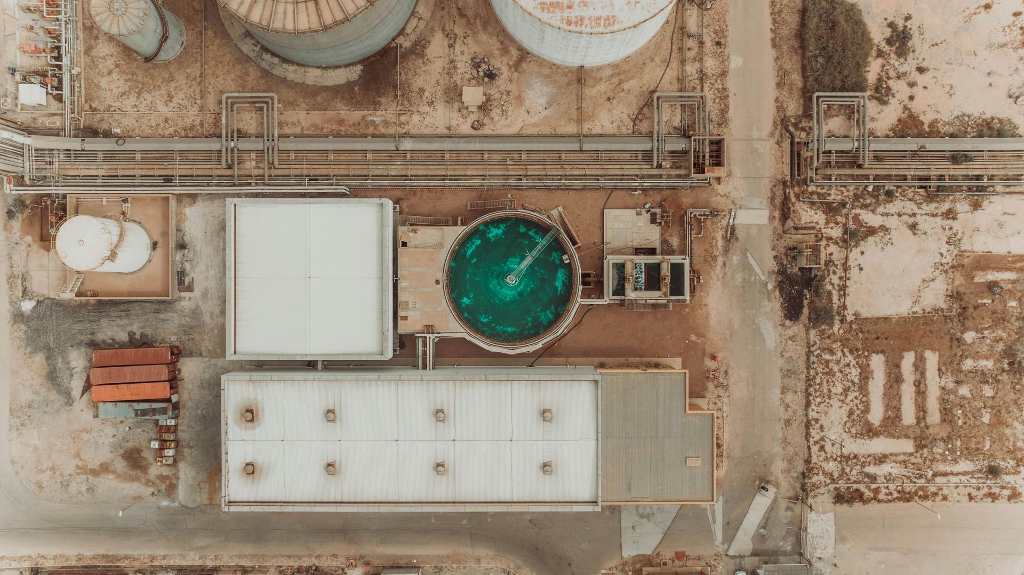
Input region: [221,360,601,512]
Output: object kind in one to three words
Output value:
building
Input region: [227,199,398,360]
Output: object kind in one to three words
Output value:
warehouse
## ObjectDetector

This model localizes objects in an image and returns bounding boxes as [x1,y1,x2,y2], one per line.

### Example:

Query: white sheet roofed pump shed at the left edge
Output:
[19,84,53,107]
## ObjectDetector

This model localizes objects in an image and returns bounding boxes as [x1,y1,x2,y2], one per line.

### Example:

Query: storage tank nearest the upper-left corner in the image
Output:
[86,0,189,65]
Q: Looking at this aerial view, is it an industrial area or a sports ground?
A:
industrial area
